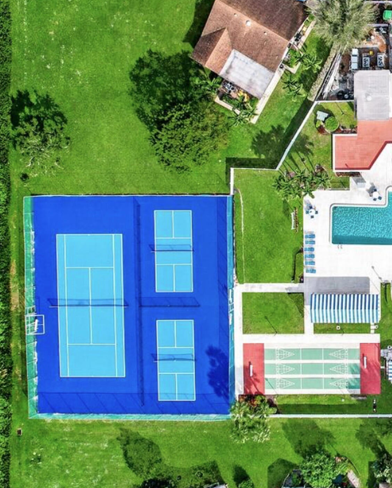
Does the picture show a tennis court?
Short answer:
Yes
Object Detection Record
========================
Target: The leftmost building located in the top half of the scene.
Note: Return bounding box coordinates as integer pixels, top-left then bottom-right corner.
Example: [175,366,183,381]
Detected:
[190,0,309,102]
